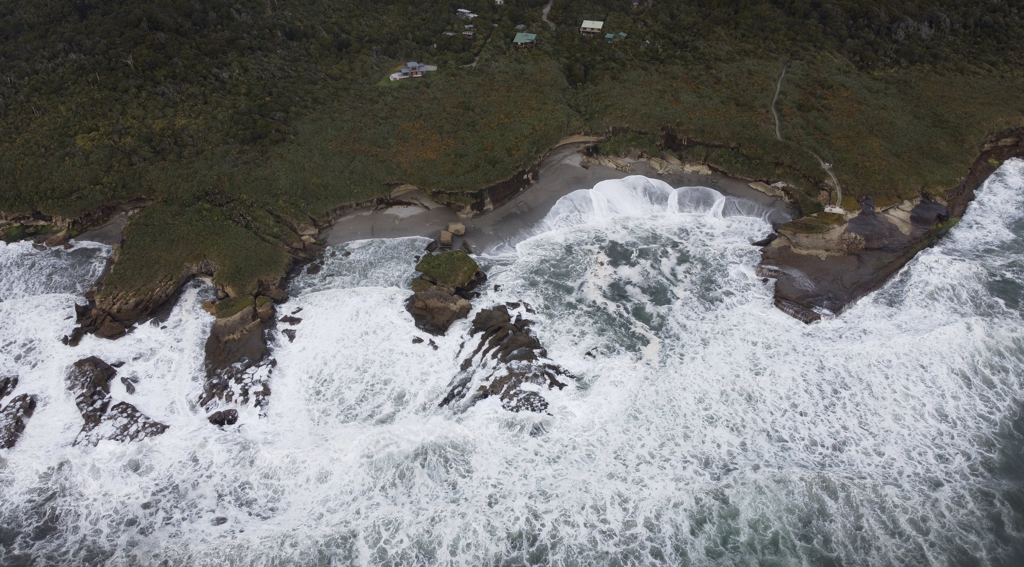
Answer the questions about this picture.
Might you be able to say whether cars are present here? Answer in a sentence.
No, the photo shows no car.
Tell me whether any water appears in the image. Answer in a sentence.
Yes, the picture does contain water.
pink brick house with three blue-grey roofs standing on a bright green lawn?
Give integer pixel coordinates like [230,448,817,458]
[399,64,430,83]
